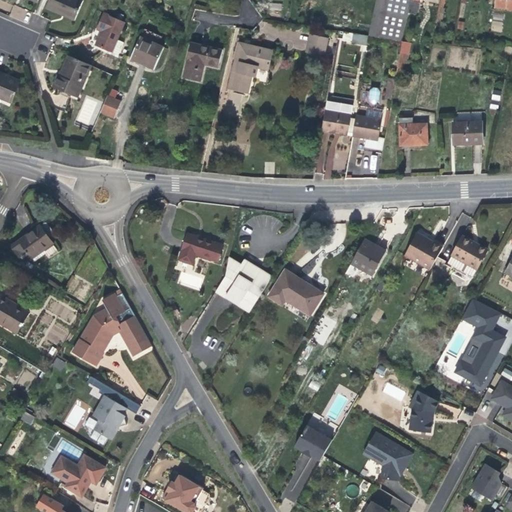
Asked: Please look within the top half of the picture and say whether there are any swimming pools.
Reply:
No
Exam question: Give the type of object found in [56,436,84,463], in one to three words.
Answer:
swimming pool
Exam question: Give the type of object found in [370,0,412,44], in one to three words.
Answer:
building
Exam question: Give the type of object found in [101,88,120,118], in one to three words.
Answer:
shed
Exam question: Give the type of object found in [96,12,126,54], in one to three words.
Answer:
house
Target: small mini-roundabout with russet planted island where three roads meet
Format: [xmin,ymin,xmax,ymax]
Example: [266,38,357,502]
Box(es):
[55,166,142,250]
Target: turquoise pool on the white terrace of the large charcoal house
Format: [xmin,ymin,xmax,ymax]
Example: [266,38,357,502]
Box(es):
[448,332,467,355]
